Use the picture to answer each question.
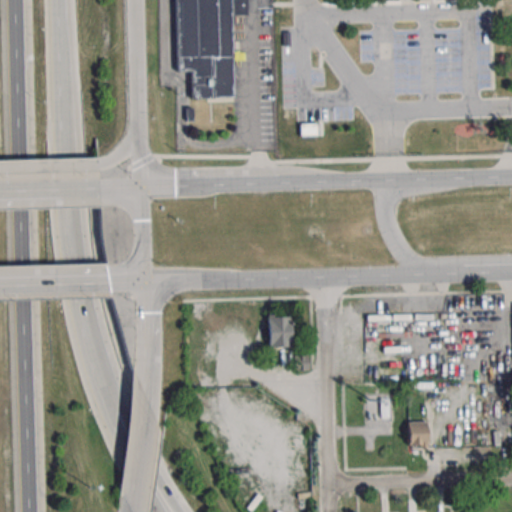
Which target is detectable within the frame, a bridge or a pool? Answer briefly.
bridge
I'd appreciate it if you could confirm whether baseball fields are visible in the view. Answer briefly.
No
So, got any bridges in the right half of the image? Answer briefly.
No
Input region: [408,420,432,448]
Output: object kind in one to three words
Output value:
house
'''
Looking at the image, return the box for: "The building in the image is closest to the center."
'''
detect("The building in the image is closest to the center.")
[268,316,296,348]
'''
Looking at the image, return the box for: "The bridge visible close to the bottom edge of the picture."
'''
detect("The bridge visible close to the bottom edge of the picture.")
[118,366,162,512]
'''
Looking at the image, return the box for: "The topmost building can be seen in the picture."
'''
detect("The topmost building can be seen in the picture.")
[177,0,248,102]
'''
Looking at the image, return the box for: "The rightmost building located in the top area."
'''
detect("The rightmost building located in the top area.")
[300,122,325,138]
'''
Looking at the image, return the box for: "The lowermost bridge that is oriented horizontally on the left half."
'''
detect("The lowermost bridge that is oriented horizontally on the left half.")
[0,263,112,300]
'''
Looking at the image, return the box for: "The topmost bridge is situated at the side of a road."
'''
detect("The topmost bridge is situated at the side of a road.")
[0,156,108,210]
